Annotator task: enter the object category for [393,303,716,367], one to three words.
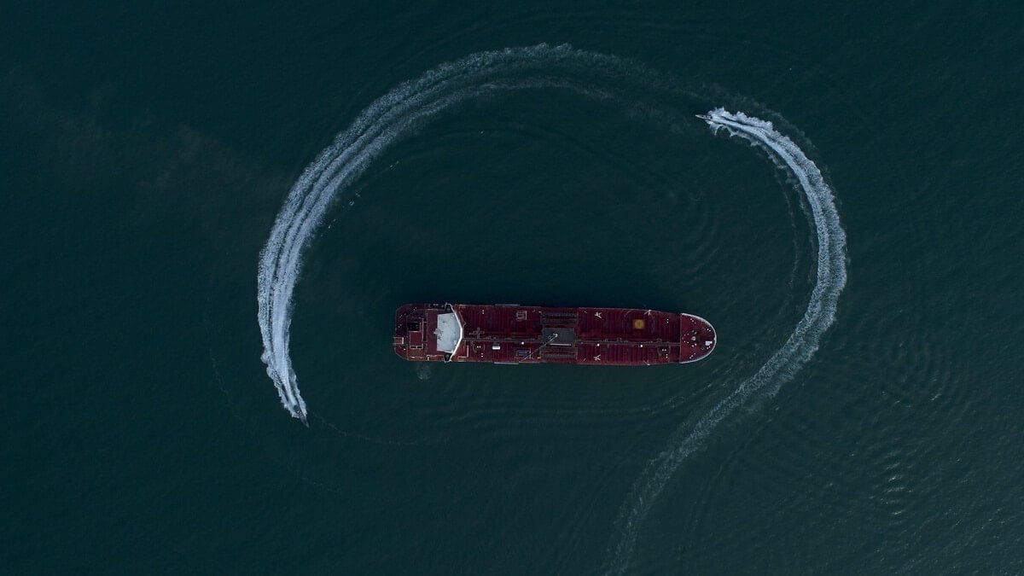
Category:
ship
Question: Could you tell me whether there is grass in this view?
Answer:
No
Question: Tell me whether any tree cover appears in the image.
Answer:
No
